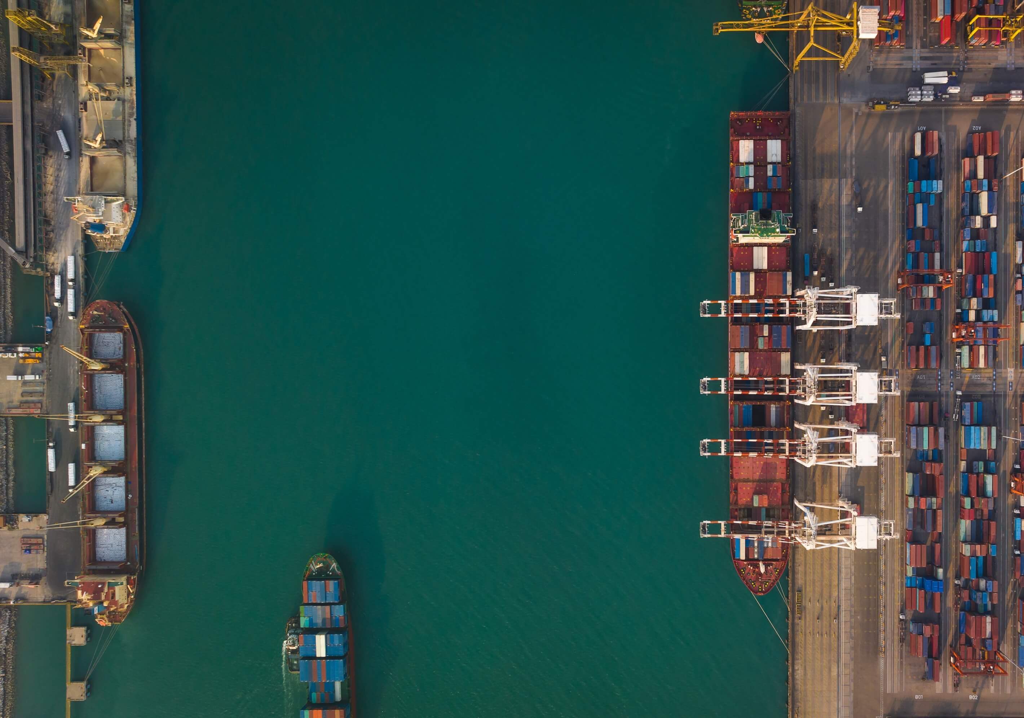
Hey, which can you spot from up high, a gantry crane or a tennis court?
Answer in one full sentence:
Of the two, only a gantry crane appears.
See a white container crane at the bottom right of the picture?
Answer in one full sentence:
Yes, there is a white container crane at the bottom right of the picture.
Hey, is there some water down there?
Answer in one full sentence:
Yes, water can be seen from above here.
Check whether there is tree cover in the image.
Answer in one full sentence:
No, the picture contains no tree cover.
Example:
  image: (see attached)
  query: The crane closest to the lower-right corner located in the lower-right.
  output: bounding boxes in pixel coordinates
[952,647,1012,679]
